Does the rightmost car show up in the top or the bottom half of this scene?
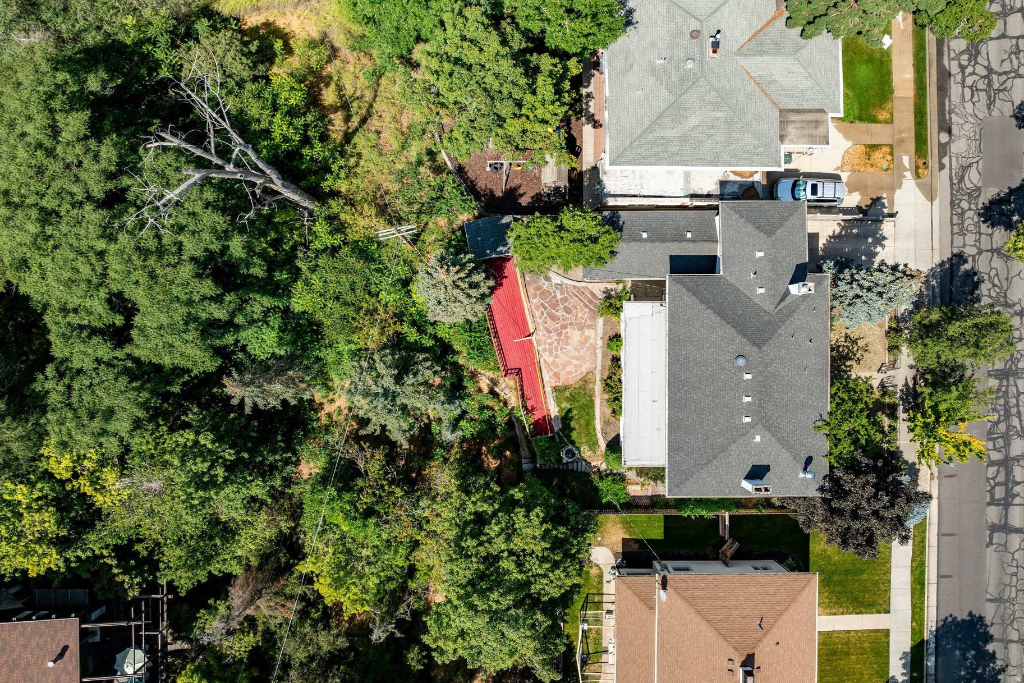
top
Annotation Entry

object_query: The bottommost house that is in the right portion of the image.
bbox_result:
[613,560,820,683]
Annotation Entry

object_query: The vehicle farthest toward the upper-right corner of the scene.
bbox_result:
[772,174,845,208]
